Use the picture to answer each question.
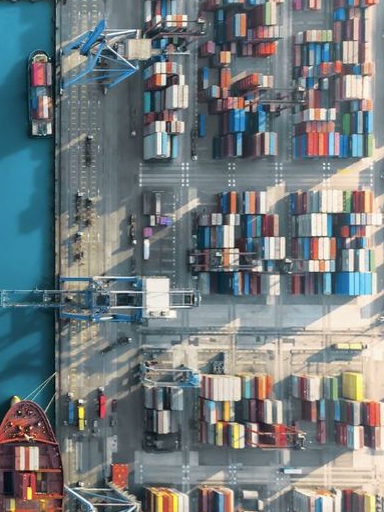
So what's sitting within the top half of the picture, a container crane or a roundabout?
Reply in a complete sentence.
The one visible within the top half of the picture is a container crane.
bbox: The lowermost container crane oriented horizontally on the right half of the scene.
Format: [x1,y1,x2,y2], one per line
[241,426,301,448]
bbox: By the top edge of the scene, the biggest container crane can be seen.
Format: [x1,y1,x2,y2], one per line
[61,18,167,94]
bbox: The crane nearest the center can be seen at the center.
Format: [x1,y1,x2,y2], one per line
[191,253,261,274]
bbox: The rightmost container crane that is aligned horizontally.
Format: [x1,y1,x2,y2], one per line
[286,254,364,274]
